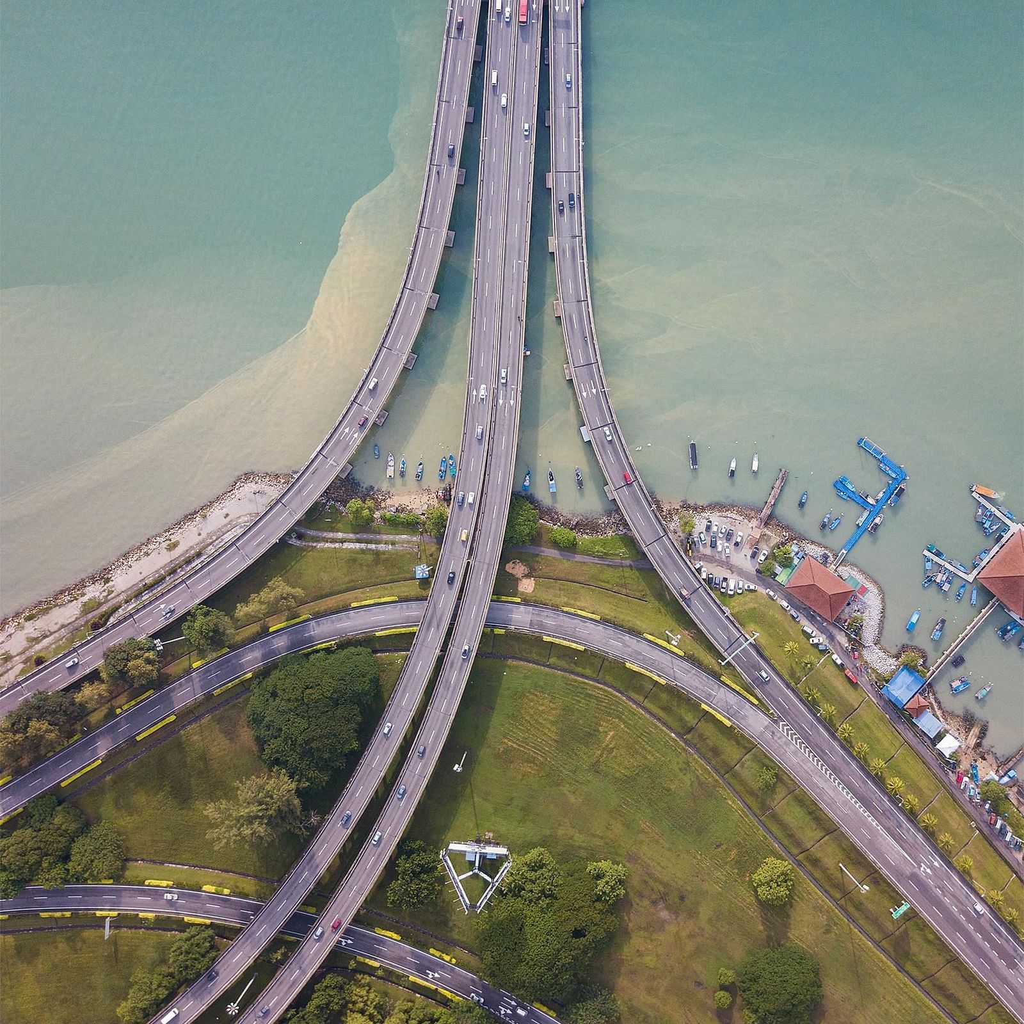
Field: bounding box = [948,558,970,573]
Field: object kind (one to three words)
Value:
boat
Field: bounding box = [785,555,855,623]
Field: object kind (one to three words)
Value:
building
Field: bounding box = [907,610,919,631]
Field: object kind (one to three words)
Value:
boat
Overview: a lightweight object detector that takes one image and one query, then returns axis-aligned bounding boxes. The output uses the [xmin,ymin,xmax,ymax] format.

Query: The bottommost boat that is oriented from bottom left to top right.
[1000,769,1018,783]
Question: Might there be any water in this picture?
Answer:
Yes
